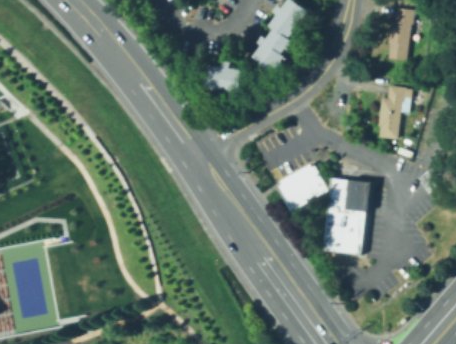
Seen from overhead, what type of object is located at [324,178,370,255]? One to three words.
building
